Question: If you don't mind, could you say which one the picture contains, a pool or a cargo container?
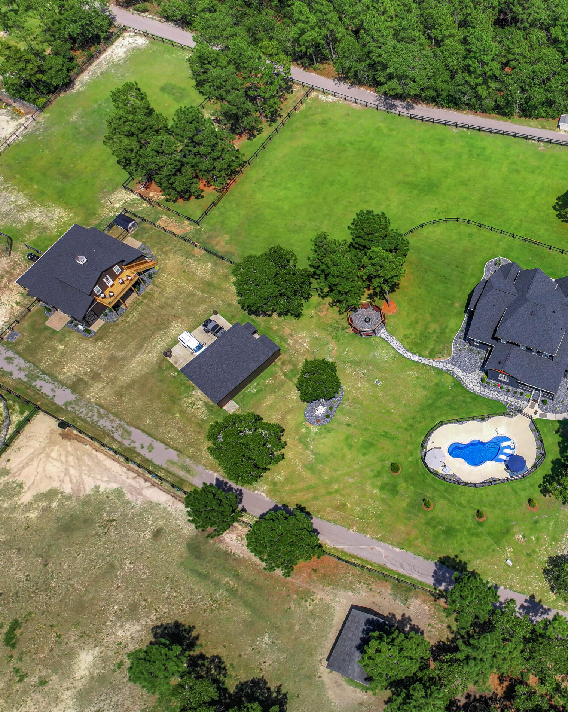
pool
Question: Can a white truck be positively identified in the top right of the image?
No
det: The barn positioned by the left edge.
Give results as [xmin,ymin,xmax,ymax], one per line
[14,224,157,326]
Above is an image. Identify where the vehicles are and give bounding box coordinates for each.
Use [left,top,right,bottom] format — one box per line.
[26,250,38,261]
[203,320,226,340]
[178,331,205,355]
